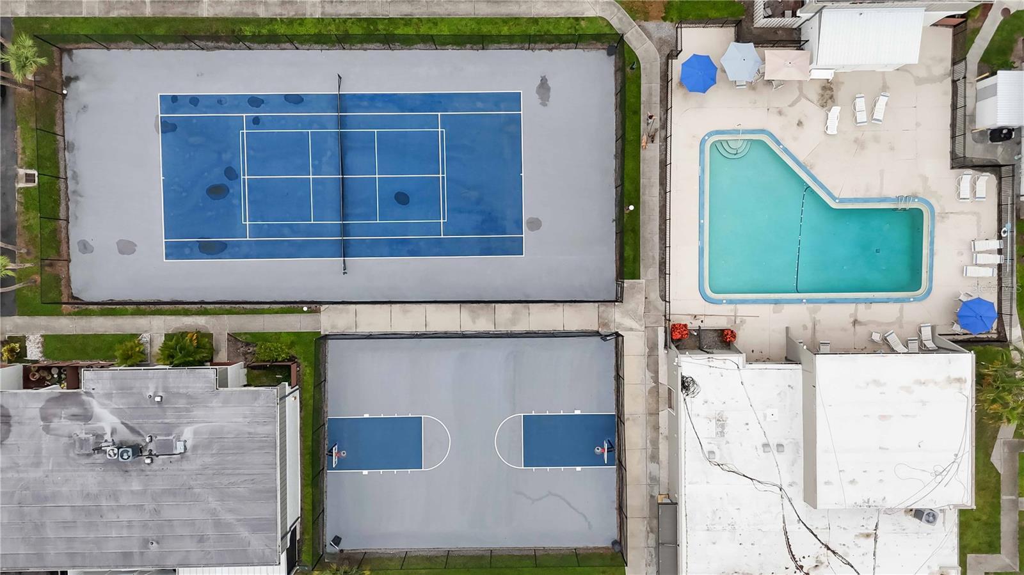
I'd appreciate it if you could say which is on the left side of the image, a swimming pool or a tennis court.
tennis court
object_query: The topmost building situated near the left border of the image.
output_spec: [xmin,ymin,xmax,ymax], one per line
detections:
[0,359,306,571]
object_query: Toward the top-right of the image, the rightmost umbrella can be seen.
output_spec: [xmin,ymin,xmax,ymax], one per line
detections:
[763,51,808,81]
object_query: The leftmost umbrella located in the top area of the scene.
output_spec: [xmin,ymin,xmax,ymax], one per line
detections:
[679,56,717,94]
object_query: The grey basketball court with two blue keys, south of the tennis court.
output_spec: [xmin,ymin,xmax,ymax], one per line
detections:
[325,338,619,562]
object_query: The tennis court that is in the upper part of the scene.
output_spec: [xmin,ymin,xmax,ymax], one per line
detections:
[62,50,619,299]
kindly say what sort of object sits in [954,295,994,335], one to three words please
umbrella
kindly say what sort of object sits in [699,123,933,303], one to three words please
swimming pool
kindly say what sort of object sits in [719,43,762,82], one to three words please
umbrella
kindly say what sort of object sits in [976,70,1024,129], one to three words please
shed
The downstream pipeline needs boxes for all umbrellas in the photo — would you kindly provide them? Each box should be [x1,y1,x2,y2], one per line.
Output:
[679,56,717,94]
[763,51,808,81]
[719,43,762,82]
[954,295,994,335]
